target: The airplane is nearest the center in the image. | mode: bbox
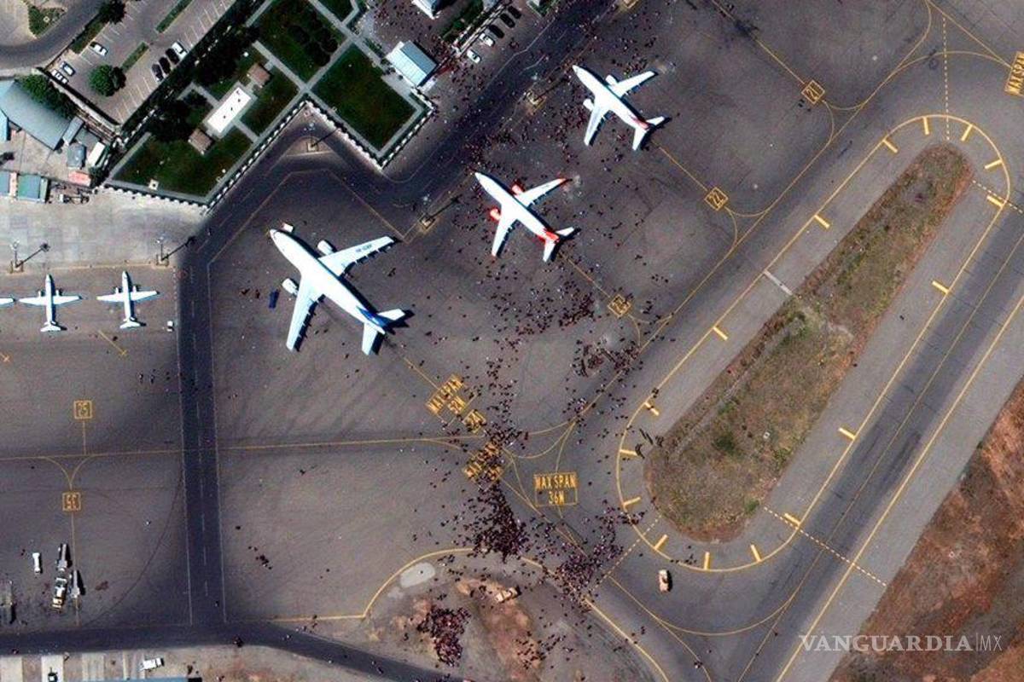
[475,173,575,261]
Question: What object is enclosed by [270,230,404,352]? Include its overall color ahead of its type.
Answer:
white airplane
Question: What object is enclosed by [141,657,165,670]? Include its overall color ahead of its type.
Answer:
white vehicle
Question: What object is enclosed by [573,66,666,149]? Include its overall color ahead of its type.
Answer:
white airplane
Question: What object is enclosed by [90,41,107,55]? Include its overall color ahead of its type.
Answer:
white car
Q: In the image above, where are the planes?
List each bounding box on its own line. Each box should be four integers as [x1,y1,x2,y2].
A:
[19,275,81,331]
[270,230,404,352]
[573,66,666,149]
[97,273,159,329]
[0,300,14,306]
[475,173,575,261]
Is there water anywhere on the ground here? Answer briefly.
No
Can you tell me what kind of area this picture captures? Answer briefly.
airport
